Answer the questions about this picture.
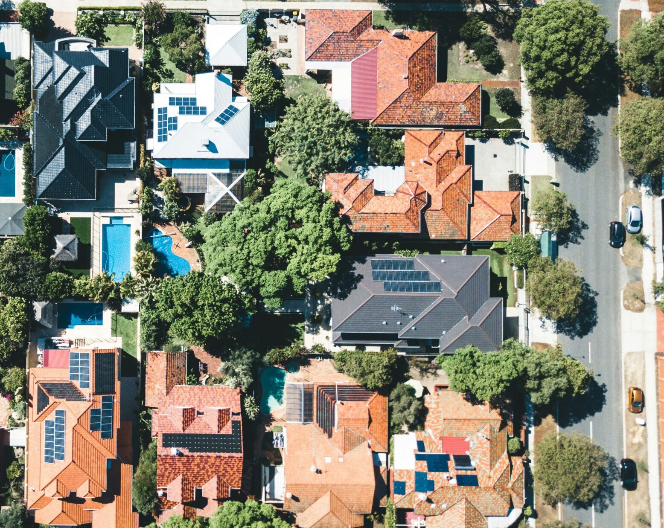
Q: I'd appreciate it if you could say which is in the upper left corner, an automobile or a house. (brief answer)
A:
house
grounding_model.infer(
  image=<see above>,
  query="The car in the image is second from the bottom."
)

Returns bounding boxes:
[627,386,644,413]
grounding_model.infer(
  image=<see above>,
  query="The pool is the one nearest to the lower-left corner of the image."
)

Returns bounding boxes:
[56,302,105,331]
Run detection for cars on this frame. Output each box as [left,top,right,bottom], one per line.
[625,205,643,235]
[618,459,637,490]
[607,221,625,249]
[627,386,644,413]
